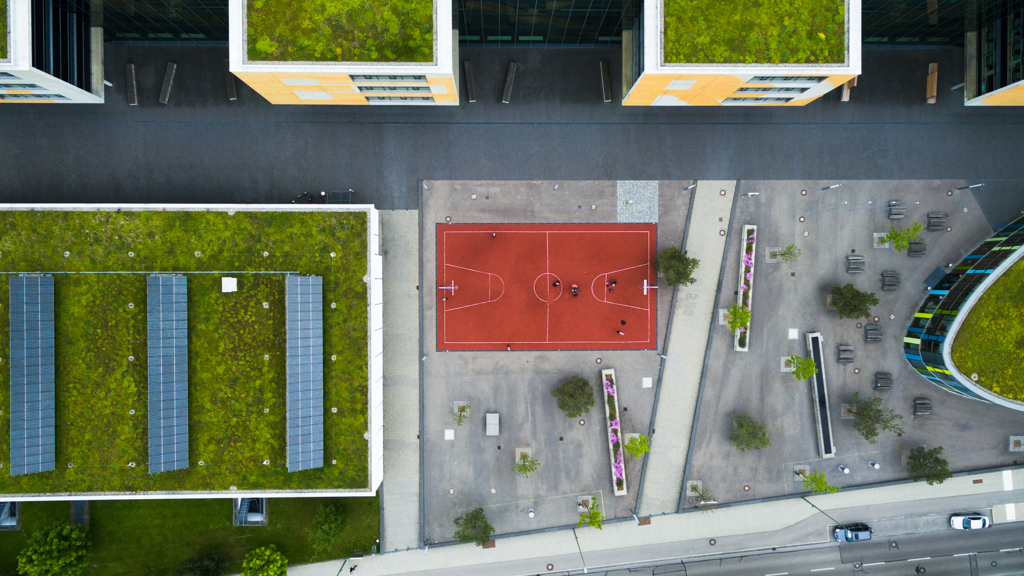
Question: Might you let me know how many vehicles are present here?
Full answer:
The number of vehicles here is 2.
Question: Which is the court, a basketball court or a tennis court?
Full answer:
It looks like the court is a basketball court.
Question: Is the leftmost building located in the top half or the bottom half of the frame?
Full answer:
The top half of the photo is where the leftmost building is.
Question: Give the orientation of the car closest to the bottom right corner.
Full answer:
In this picture, the car closest to the bottom right corner is oriented horizontally.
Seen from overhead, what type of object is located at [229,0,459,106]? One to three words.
building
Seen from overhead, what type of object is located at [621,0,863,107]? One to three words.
building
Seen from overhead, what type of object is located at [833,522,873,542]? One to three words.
car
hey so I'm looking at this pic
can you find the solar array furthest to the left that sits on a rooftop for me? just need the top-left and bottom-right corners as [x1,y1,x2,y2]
[9,276,56,475]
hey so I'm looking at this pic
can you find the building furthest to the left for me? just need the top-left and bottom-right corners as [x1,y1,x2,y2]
[0,0,105,104]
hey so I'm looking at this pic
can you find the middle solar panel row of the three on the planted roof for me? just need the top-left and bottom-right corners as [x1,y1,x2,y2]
[147,276,189,473]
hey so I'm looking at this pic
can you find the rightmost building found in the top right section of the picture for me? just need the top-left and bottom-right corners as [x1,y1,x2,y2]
[964,10,1024,107]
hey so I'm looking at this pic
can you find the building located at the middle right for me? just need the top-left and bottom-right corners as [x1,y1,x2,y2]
[903,216,1024,417]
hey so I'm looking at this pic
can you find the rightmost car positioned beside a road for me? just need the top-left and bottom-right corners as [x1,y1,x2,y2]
[950,511,988,531]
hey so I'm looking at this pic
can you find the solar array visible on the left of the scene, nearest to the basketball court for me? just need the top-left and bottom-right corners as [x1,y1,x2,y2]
[286,276,323,472]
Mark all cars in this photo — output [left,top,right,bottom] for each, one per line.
[950,511,988,531]
[833,522,873,542]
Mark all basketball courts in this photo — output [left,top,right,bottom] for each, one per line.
[436,223,658,351]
